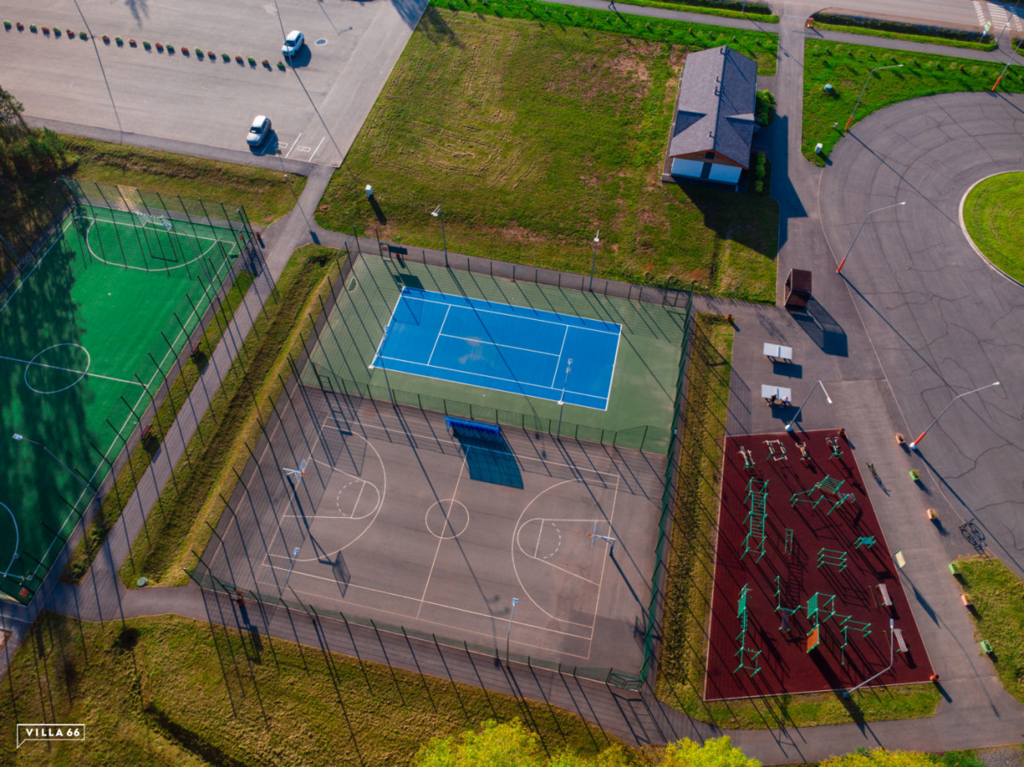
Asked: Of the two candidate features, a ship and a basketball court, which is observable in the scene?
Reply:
basketball court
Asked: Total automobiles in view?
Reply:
2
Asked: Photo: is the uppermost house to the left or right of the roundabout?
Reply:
on the left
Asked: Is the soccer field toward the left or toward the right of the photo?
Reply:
left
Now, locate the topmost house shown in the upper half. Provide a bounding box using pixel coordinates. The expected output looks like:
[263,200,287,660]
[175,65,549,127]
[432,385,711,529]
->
[659,43,756,192]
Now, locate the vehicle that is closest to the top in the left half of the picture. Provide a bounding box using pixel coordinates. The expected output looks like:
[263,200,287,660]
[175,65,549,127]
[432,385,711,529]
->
[280,29,302,54]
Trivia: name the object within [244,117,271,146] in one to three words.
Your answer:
car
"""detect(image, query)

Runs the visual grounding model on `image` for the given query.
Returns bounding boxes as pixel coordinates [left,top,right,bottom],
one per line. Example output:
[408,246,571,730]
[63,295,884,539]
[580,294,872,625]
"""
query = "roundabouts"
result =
[820,92,1024,578]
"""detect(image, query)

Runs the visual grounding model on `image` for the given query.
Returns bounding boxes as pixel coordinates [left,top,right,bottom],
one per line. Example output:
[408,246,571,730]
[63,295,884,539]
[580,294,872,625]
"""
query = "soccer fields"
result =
[0,203,254,608]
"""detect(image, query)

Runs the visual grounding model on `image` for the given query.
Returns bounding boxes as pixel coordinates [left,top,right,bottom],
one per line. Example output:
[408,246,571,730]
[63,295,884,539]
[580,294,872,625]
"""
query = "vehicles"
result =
[280,29,302,54]
[244,117,271,146]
